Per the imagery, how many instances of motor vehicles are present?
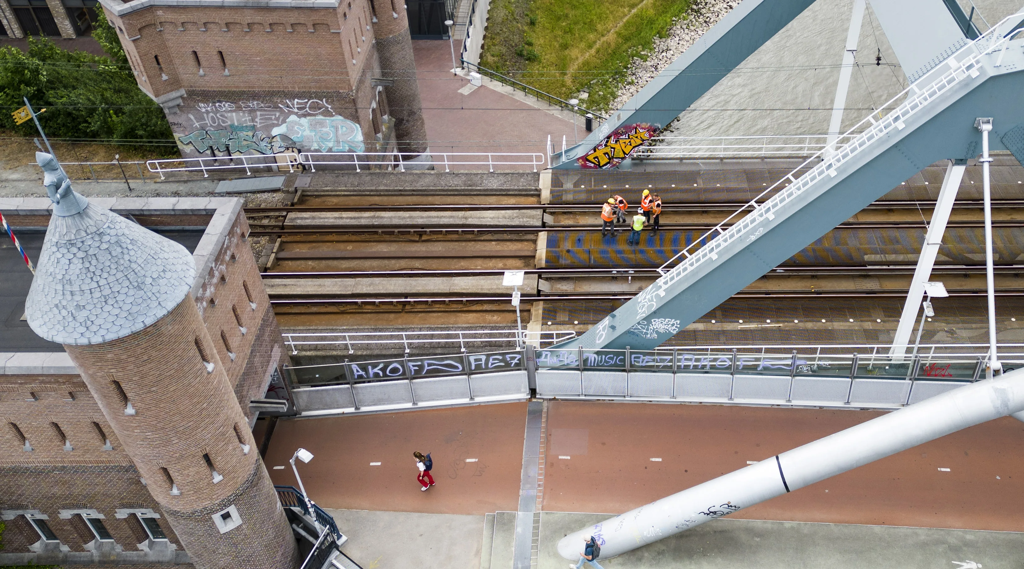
0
